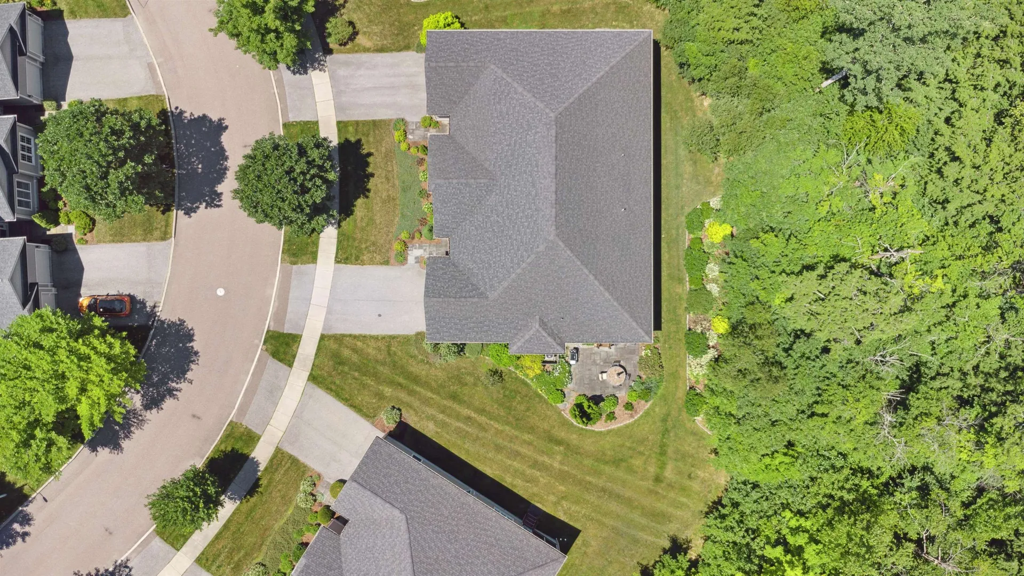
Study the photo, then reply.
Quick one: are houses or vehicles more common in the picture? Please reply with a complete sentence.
Here, houses are more common than vehicles.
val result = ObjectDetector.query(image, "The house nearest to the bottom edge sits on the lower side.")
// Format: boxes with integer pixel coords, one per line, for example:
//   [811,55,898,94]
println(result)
[292,432,569,576]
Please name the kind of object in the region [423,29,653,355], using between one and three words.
house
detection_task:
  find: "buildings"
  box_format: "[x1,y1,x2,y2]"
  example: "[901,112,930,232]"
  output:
[0,1,57,338]
[292,432,569,576]
[423,29,653,355]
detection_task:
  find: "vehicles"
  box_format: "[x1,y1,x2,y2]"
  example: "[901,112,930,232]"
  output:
[80,295,133,318]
